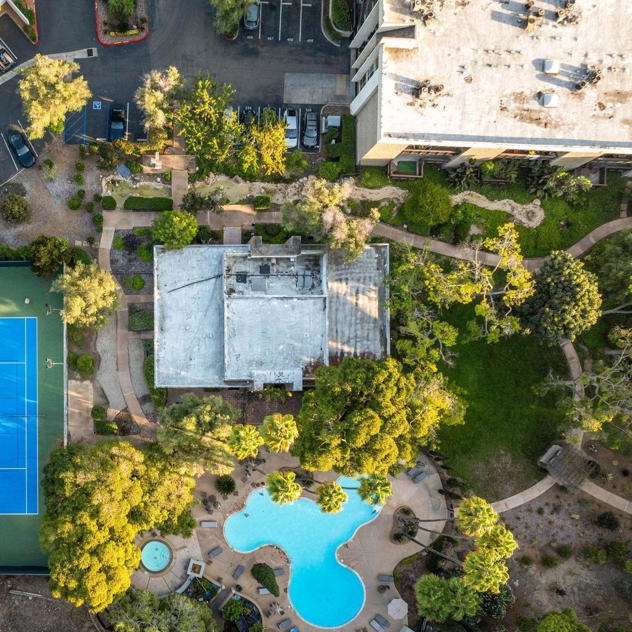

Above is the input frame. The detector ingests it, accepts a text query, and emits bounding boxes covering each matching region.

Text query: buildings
[153,237,390,391]
[343,0,632,158]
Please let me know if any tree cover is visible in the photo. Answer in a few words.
Yes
